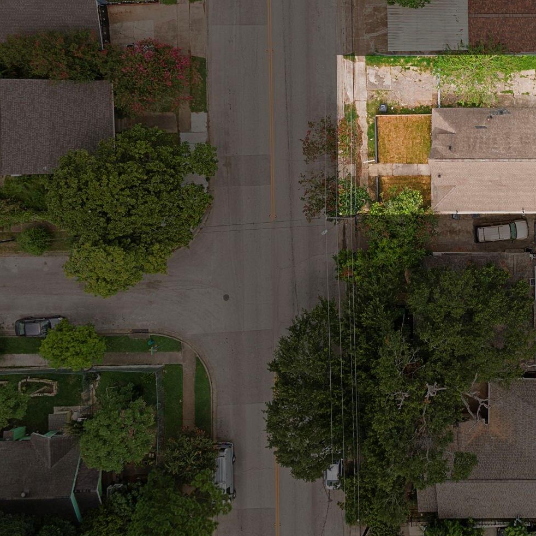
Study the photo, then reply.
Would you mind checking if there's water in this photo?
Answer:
No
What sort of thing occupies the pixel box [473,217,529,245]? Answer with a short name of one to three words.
car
